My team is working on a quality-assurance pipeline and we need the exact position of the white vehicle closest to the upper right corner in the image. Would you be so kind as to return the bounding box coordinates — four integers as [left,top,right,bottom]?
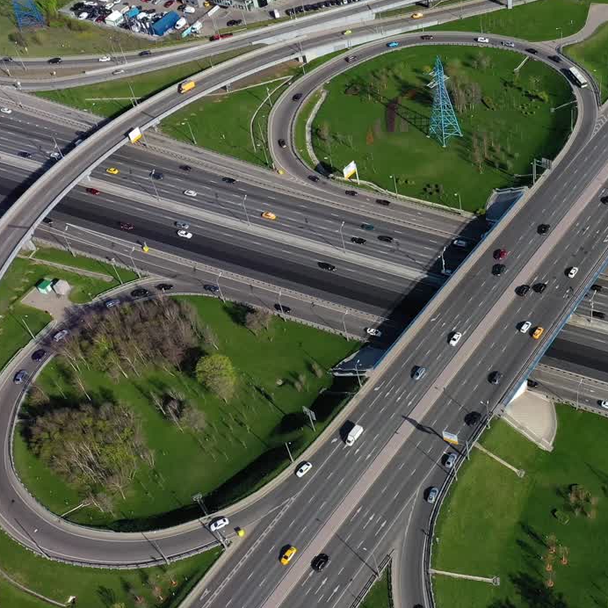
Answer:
[570,64,587,87]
